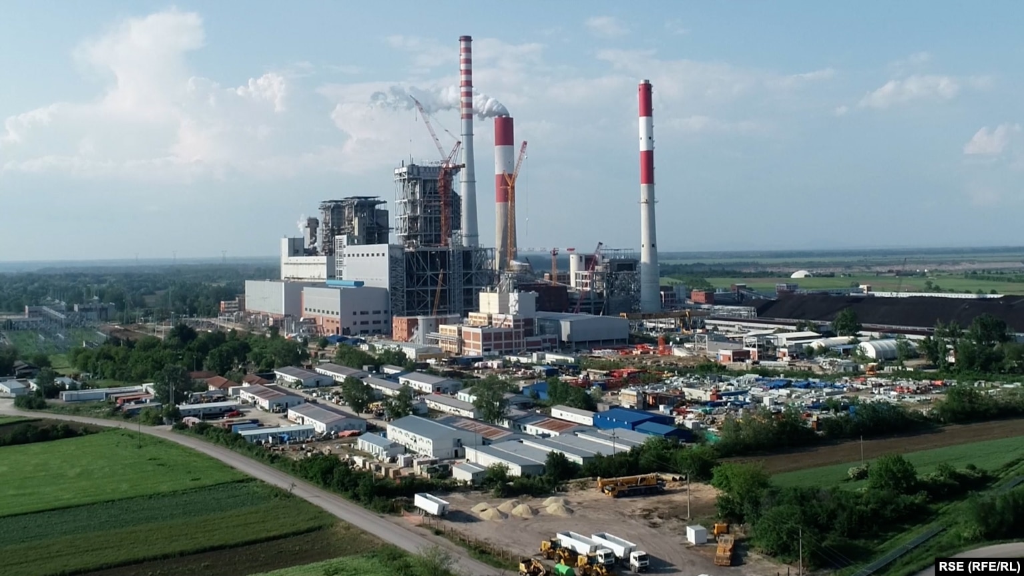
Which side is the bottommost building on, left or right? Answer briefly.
right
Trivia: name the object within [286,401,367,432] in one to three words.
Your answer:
building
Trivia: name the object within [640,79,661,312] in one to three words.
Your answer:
chimney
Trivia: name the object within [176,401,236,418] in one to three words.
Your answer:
shed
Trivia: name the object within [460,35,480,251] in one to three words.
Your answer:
chimney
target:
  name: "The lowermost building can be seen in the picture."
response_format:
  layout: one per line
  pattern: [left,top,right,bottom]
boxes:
[686,524,707,544]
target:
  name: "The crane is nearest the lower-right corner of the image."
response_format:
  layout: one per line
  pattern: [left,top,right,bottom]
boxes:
[598,472,667,498]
